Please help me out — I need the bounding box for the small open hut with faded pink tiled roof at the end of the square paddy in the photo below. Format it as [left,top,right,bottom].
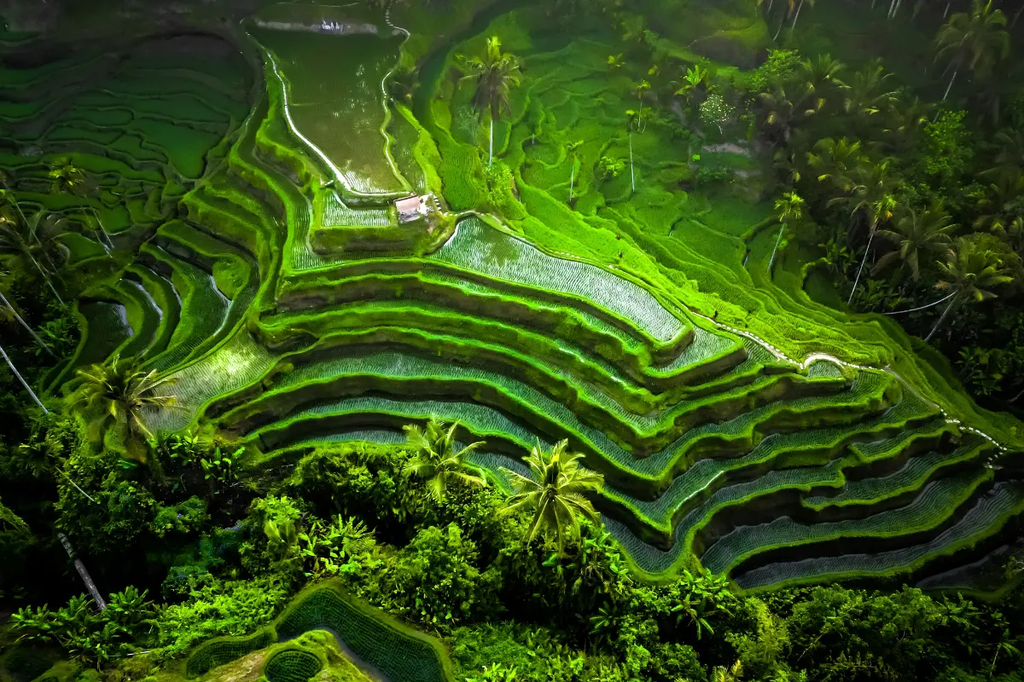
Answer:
[394,199,421,222]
